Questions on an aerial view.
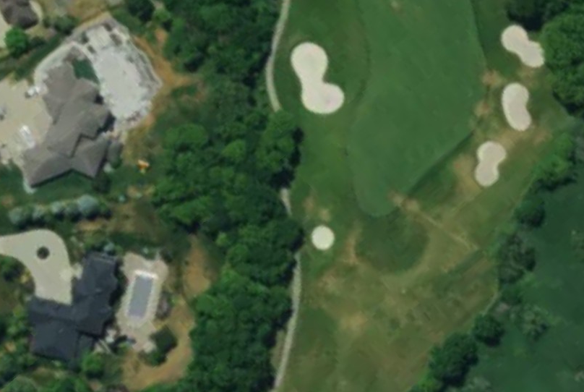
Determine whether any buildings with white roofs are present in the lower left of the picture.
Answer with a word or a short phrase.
No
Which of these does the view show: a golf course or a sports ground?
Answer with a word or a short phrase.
golf course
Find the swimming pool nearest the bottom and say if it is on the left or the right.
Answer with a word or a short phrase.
left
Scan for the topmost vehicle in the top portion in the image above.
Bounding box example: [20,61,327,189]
[26,84,44,96]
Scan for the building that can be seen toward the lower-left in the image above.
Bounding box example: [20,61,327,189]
[25,253,120,364]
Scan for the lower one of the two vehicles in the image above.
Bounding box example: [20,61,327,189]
[18,125,35,149]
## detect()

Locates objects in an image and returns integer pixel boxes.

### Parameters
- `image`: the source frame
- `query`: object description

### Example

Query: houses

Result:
[0,0,42,32]
[17,60,117,193]
[25,253,120,364]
